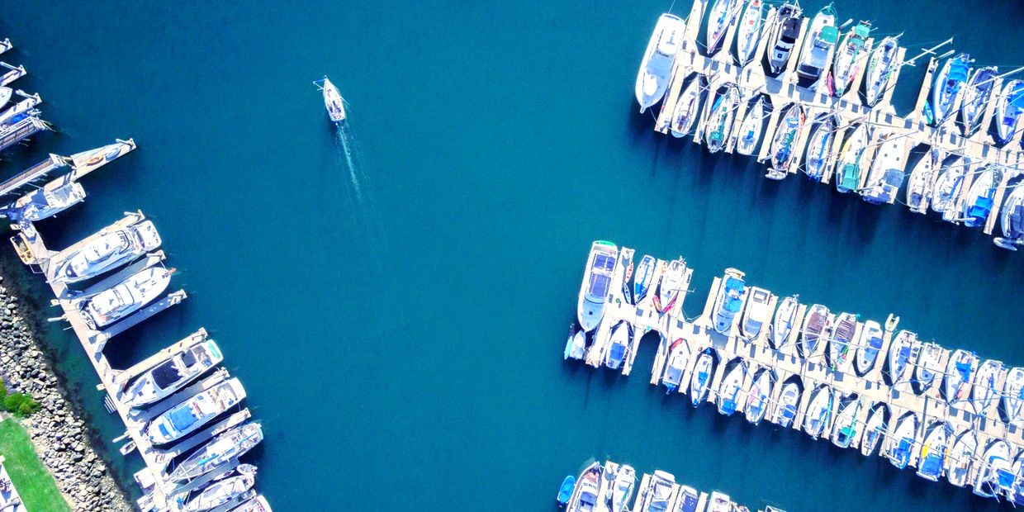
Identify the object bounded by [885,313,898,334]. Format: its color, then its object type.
white boat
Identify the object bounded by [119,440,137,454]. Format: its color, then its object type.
white boat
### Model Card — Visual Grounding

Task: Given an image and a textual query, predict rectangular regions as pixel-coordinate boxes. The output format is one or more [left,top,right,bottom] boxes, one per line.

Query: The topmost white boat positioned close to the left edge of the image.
[0,86,22,112]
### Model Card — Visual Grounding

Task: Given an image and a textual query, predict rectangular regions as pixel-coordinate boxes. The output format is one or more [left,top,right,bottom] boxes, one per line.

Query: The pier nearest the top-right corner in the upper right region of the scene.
[654,0,1024,243]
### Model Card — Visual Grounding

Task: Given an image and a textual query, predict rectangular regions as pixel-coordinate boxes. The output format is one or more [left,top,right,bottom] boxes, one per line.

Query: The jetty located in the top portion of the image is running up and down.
[0,38,43,136]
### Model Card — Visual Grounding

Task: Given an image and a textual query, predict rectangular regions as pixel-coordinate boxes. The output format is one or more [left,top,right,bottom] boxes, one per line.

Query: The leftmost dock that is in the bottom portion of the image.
[10,139,258,512]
